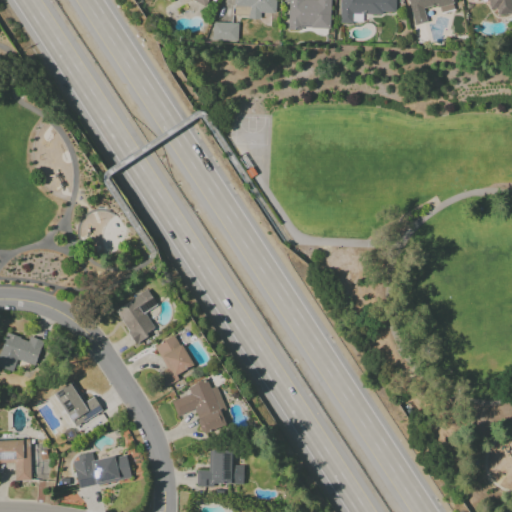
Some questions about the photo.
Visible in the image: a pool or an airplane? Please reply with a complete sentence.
This aerial view contains a pool.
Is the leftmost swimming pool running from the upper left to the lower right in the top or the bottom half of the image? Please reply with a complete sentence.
Seen from above, the leftmost swimming pool running from the upper left to the lower right lies in the bottom half of the view.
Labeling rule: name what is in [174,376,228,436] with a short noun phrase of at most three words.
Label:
house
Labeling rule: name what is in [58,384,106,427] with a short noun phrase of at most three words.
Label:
house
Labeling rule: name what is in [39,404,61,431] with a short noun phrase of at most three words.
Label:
swimming pool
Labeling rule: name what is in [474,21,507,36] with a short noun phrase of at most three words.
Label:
swimming pool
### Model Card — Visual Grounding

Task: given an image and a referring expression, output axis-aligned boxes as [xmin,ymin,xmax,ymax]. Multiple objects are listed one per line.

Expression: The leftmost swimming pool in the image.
[12,408,27,432]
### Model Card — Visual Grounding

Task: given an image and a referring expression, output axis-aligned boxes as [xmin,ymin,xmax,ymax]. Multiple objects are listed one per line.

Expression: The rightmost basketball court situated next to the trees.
[230,114,272,180]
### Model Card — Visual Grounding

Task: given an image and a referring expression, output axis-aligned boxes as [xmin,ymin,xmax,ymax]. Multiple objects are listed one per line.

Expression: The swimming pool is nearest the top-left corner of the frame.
[175,16,204,32]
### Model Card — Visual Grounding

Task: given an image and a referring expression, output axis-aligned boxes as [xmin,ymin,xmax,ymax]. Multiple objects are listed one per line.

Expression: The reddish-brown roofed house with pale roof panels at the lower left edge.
[0,440,32,479]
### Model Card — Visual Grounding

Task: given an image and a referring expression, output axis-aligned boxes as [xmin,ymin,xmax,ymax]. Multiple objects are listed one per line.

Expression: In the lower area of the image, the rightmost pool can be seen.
[250,488,278,500]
